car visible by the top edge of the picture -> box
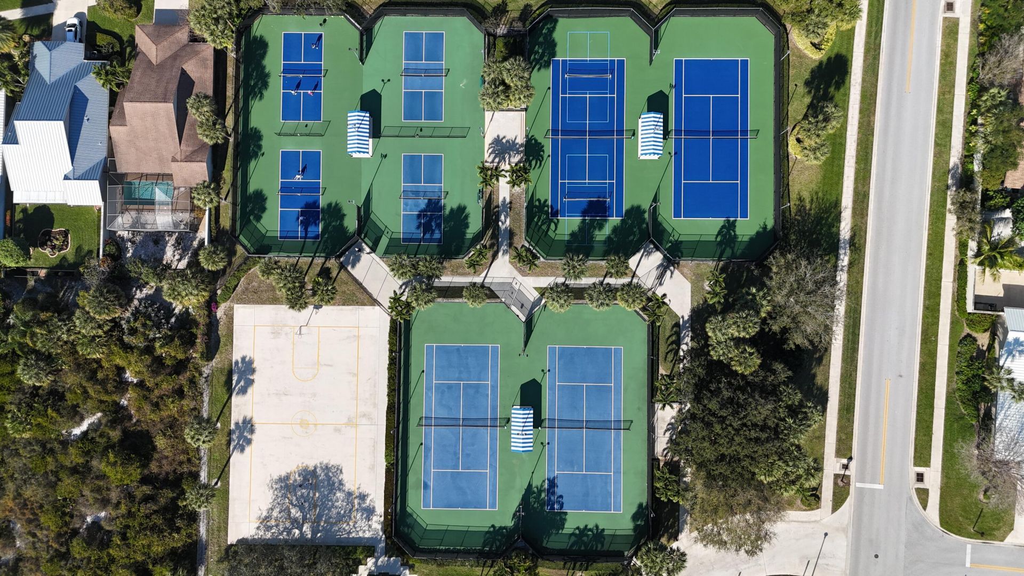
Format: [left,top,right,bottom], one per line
[65,17,84,43]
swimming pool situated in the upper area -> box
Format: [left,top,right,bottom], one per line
[123,181,176,207]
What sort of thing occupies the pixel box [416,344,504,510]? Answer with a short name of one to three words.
tennis court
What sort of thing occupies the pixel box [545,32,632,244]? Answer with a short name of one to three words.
tennis court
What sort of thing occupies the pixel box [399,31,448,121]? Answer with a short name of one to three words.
sports court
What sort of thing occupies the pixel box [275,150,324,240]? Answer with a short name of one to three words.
sports court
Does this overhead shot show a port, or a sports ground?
sports ground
